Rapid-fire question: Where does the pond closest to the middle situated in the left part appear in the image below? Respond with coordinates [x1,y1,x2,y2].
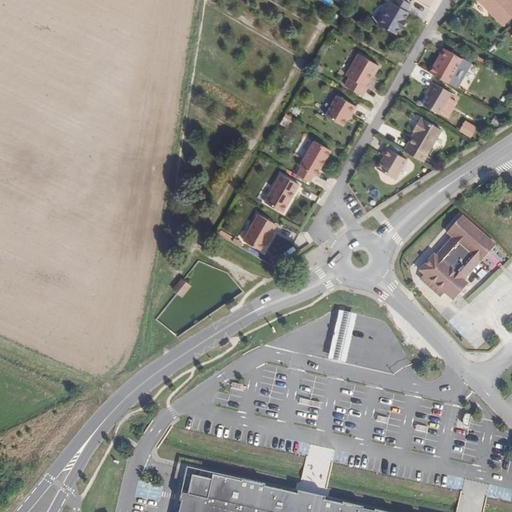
[154,260,245,337]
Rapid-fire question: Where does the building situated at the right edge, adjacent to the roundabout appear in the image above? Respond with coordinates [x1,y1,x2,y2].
[418,215,496,304]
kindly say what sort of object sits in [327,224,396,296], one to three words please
roundabout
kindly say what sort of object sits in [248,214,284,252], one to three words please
house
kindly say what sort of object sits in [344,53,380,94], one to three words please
house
